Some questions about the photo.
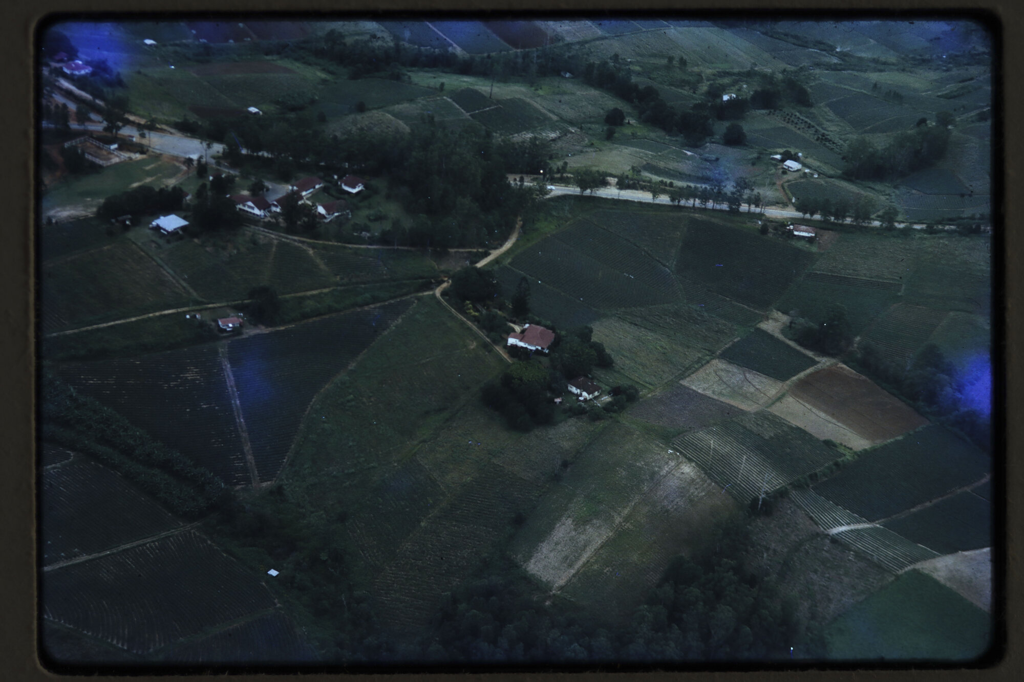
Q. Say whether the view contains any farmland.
Yes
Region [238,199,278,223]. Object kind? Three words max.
building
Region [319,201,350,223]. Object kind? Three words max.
building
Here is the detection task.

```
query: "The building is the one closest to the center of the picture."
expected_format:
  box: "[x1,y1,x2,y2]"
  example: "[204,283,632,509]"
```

[509,326,562,360]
